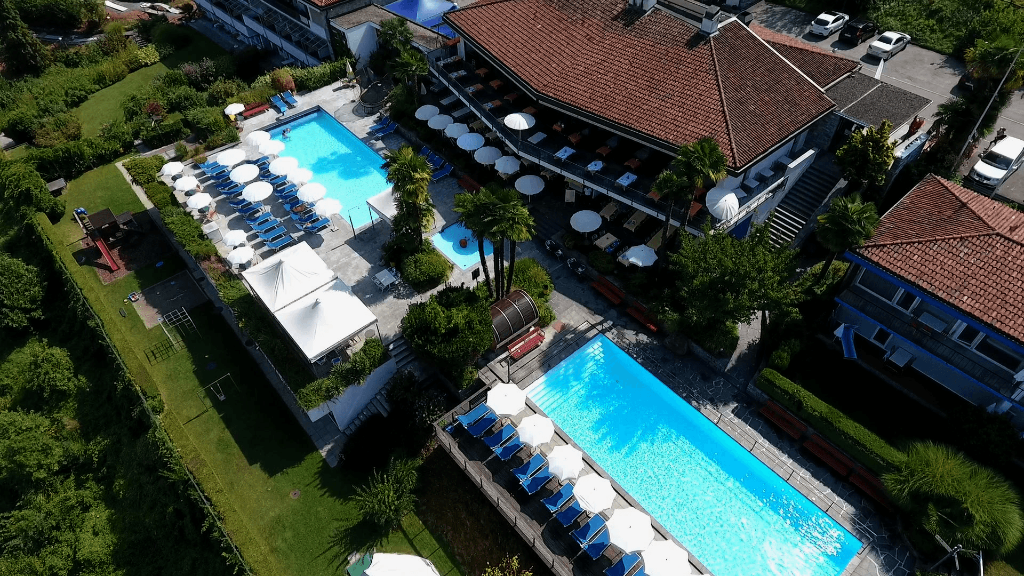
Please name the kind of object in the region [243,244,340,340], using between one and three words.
tent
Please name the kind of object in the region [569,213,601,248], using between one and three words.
umbrella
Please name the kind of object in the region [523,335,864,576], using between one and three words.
swimming pool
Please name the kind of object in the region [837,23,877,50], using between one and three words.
car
